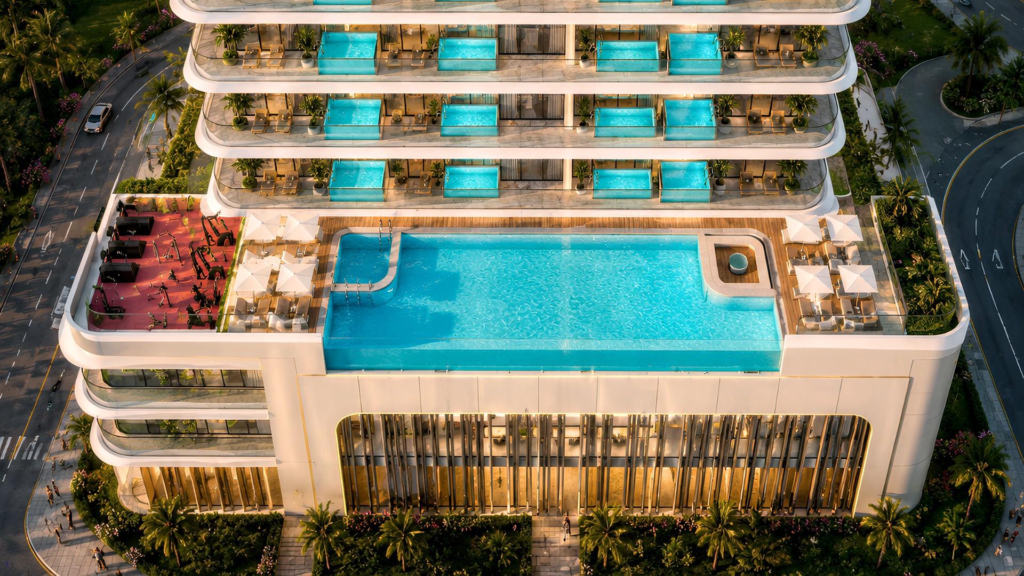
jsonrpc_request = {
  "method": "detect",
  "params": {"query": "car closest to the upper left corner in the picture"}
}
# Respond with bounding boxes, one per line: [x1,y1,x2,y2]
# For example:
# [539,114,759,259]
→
[81,102,118,135]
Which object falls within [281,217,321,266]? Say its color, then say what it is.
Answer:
white umbrella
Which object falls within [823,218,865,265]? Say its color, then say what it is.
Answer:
white umbrella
